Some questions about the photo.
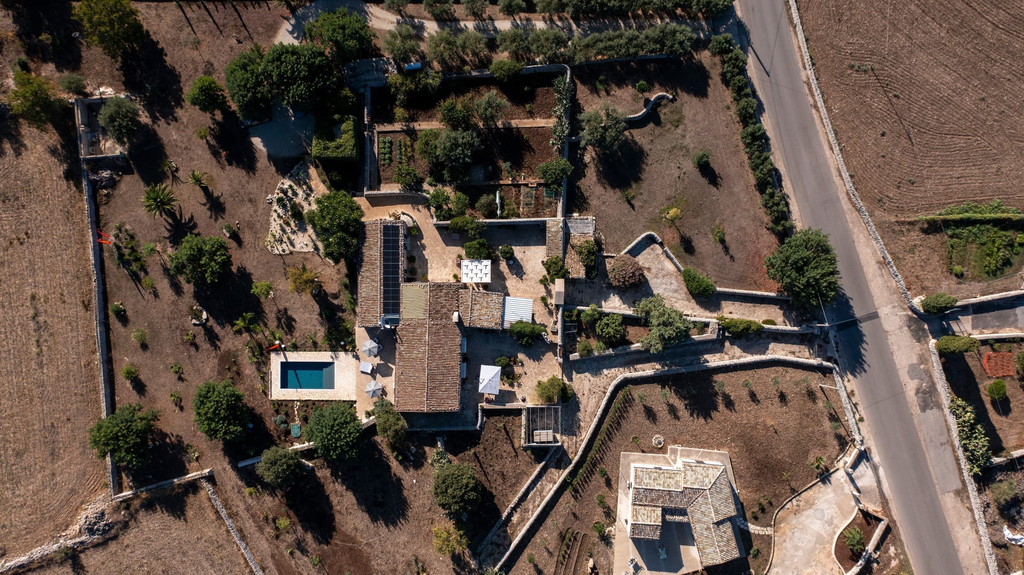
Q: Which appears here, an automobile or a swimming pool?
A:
swimming pool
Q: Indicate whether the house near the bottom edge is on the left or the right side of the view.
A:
right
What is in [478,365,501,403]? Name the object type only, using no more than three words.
umbrella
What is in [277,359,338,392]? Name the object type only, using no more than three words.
swimming pool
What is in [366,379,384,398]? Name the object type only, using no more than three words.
umbrella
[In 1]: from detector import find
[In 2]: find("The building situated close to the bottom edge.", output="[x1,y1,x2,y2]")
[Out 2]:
[623,457,740,566]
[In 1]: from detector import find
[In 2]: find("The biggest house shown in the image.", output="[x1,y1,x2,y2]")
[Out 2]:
[357,220,505,413]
